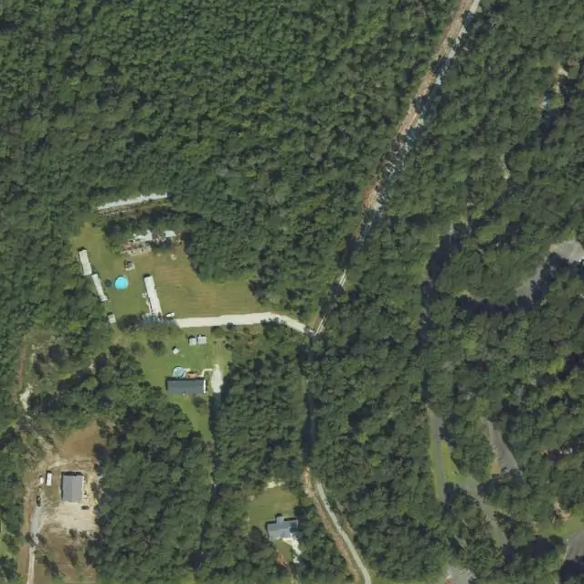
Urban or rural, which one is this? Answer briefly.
rural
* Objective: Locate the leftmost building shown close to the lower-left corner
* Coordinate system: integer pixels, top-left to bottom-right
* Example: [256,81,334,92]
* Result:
[62,476,83,503]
